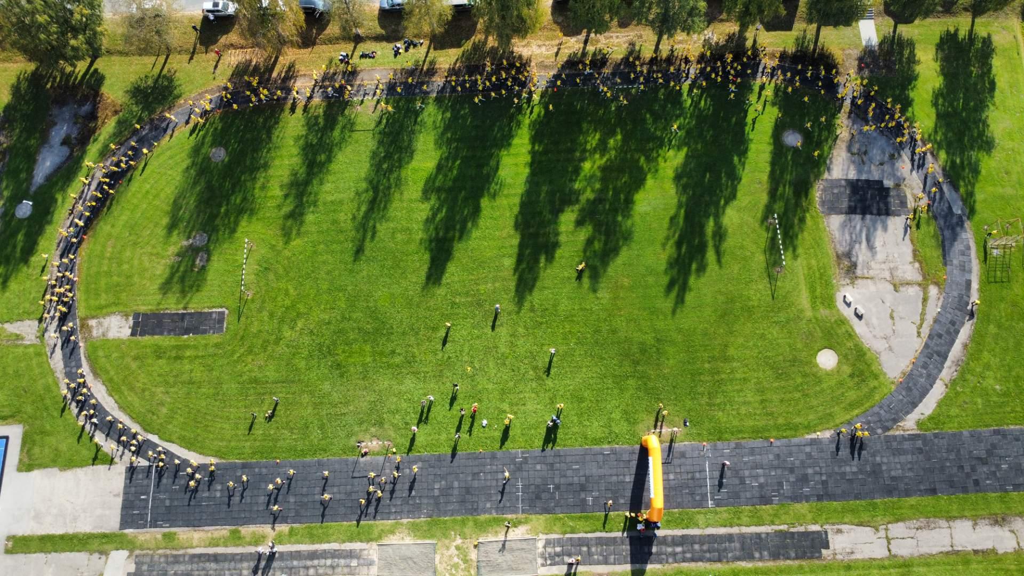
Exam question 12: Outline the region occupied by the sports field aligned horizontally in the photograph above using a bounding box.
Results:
[78,79,944,461]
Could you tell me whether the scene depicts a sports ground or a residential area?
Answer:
sports ground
